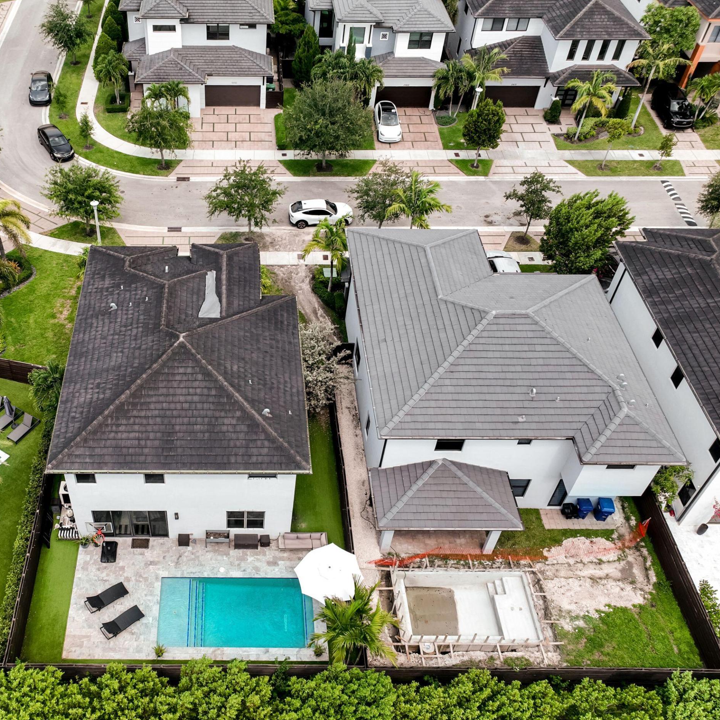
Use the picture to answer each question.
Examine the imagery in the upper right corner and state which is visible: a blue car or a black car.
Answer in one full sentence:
What appears in the upper right corner is a black car.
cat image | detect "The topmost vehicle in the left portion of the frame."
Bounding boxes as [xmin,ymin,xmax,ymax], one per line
[29,71,56,101]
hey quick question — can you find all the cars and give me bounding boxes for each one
[372,101,400,137]
[647,80,696,125]
[35,122,71,159]
[29,71,56,101]
[486,246,519,273]
[289,199,353,228]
